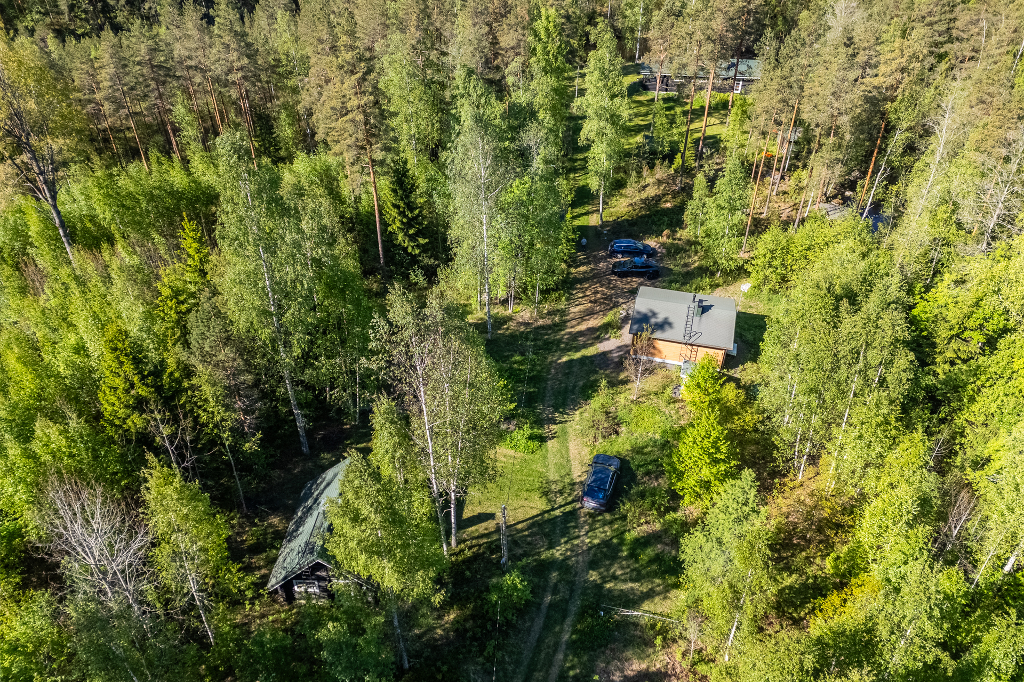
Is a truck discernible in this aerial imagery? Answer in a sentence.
No, the frame has no truck in it.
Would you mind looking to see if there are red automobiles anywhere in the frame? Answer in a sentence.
No, no red automobile is visible in the view.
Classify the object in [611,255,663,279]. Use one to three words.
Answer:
car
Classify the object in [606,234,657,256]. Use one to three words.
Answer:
car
